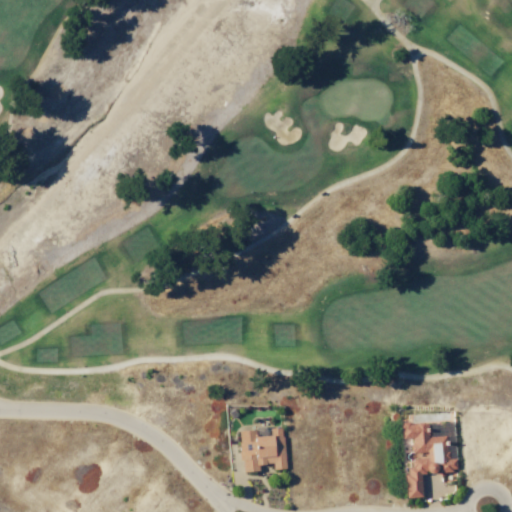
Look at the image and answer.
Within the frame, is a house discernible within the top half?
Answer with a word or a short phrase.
No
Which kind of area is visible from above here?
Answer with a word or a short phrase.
golf course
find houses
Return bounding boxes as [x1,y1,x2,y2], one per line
[242,427,287,474]
[404,414,460,499]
